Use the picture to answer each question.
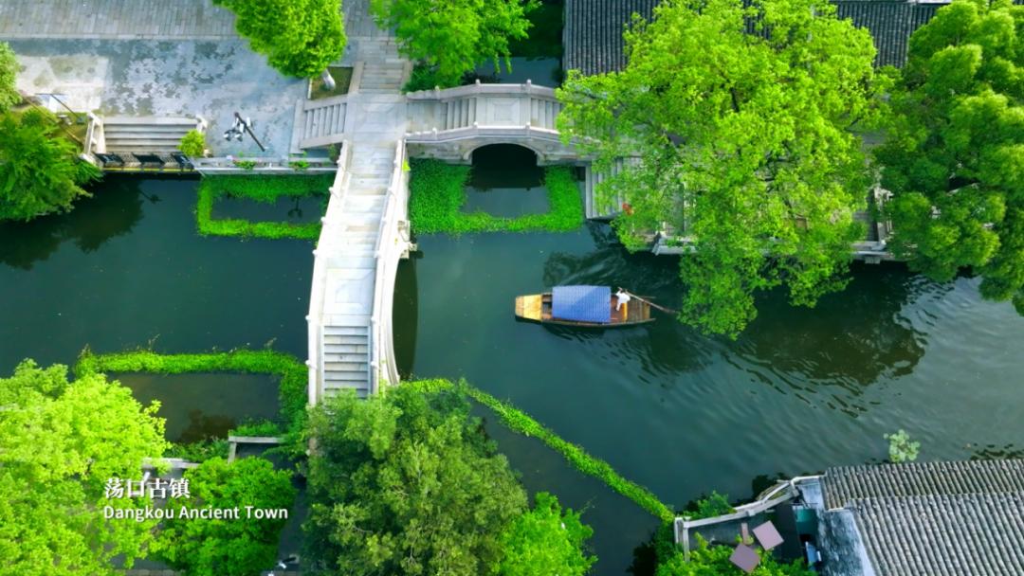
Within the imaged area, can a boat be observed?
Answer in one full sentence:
Yes, the photo shows a boat.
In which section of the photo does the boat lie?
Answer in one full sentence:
You can find the boat in the center area of the picture.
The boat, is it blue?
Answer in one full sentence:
Yes, the boat appears blue.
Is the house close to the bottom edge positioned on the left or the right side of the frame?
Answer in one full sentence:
The house close to the bottom edge appears in the right half of the scene.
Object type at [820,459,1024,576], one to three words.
house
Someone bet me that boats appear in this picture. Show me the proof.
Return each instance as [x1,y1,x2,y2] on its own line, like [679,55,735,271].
[516,283,661,325]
